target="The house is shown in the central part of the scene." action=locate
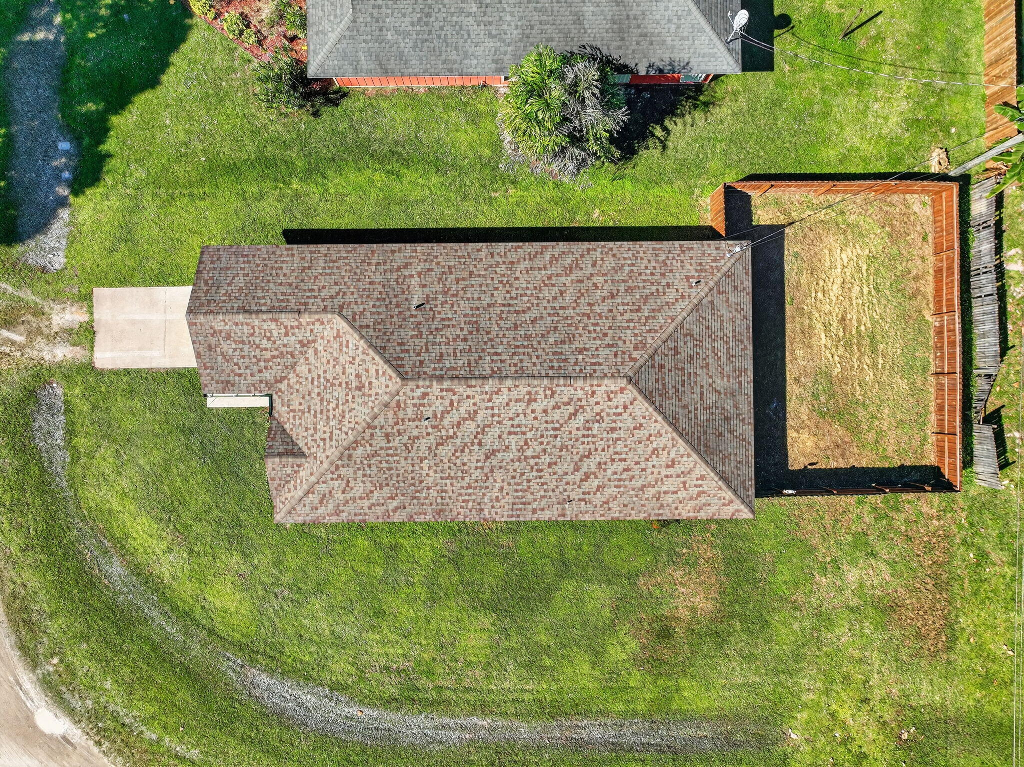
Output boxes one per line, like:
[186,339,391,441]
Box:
[187,242,754,524]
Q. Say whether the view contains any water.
No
